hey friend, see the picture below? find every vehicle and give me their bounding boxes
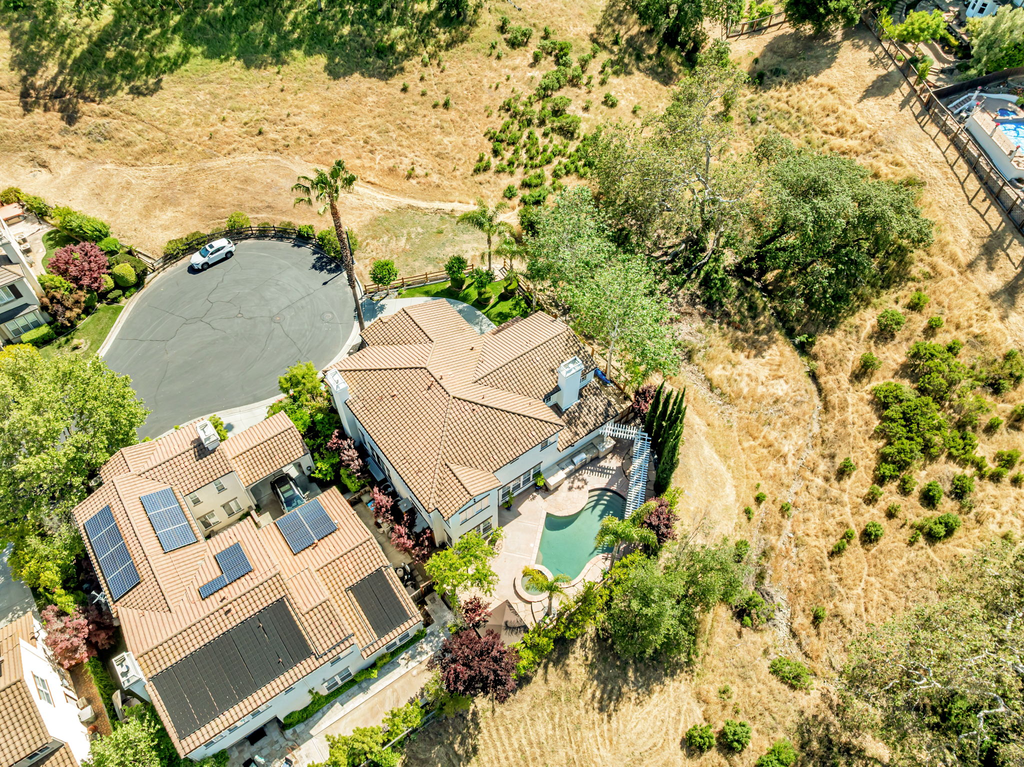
[266,469,309,514]
[187,237,236,270]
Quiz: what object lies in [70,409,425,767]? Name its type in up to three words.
house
